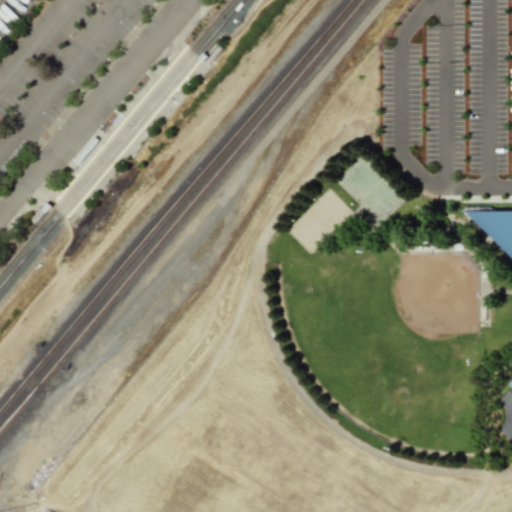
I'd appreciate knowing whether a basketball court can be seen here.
Yes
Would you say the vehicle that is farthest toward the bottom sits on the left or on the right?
left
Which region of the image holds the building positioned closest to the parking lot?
right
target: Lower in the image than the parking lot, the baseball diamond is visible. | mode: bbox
[281,249,482,453]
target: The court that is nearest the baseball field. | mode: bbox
[290,188,354,254]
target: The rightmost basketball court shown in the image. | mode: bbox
[337,156,406,224]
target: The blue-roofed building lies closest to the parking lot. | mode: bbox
[466,210,512,258]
